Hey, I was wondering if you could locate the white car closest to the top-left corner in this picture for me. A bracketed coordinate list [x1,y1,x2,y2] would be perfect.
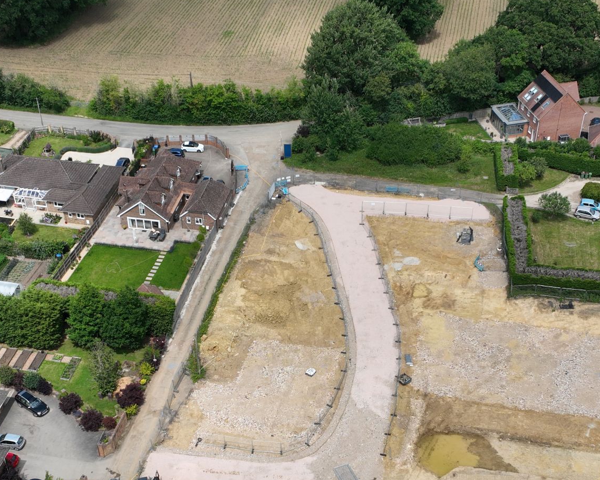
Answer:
[178,137,205,154]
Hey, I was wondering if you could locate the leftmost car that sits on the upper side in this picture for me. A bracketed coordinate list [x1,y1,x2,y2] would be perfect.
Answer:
[116,158,133,175]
